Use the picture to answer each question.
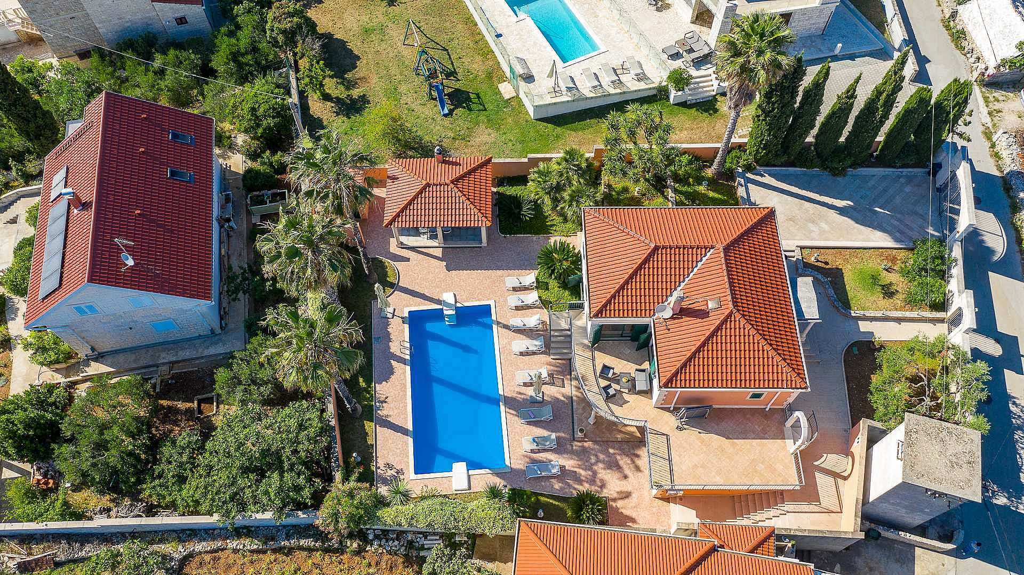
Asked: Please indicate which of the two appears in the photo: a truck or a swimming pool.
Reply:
swimming pool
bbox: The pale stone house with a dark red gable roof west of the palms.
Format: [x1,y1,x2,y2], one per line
[20,89,237,358]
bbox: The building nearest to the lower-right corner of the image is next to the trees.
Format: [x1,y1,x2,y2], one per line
[868,414,981,518]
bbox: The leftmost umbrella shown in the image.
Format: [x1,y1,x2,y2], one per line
[376,285,394,318]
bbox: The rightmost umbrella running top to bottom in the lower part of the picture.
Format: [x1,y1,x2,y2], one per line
[529,372,543,404]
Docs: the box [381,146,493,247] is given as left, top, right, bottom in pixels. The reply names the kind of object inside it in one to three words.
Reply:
gazebo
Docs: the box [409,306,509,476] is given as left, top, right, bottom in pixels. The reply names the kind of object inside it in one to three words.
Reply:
swimming pool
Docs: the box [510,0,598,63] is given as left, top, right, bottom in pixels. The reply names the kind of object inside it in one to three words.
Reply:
swimming pool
